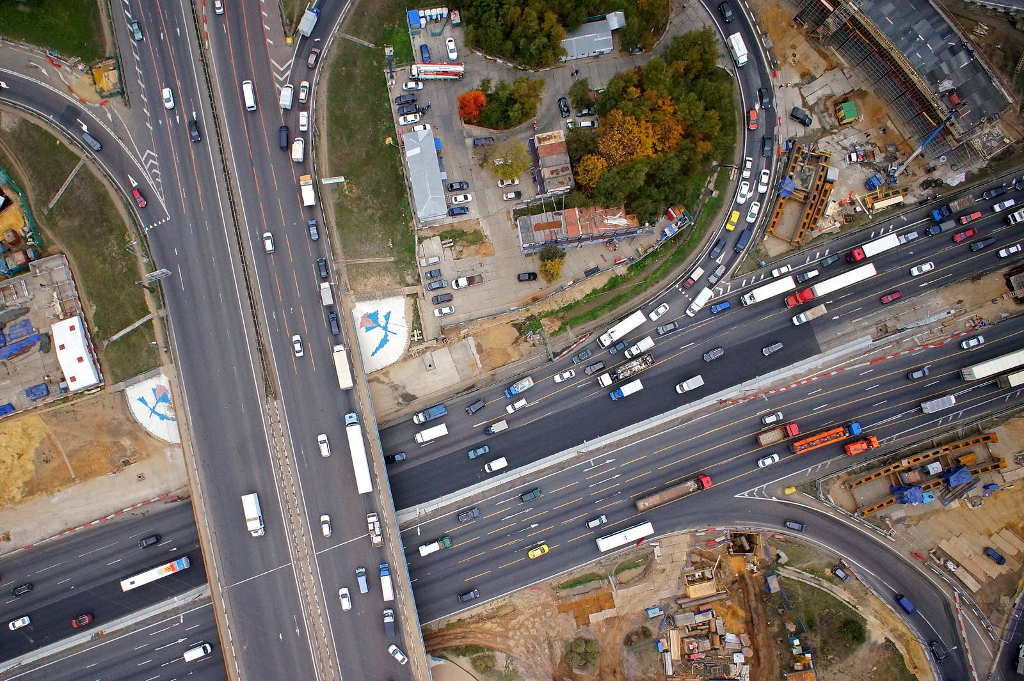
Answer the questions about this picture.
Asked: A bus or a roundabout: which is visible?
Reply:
bus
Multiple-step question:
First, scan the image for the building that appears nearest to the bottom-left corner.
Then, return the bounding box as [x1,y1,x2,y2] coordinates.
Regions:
[53,316,112,392]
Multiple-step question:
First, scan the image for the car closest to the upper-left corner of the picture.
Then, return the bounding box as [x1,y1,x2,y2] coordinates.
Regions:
[131,19,143,42]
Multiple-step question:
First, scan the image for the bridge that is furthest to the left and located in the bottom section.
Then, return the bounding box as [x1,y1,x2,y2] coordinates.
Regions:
[162,333,433,681]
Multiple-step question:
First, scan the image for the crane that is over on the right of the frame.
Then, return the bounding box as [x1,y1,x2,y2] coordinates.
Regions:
[860,103,969,192]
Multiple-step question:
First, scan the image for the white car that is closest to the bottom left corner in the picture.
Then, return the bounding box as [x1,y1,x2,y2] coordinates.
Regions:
[8,615,33,631]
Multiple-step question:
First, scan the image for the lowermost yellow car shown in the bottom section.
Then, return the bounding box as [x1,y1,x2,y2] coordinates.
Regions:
[527,544,549,559]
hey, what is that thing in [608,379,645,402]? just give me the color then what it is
white truck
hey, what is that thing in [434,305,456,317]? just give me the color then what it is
white vehicle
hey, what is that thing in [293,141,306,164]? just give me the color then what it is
white vehicle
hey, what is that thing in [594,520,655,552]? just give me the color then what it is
white bus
